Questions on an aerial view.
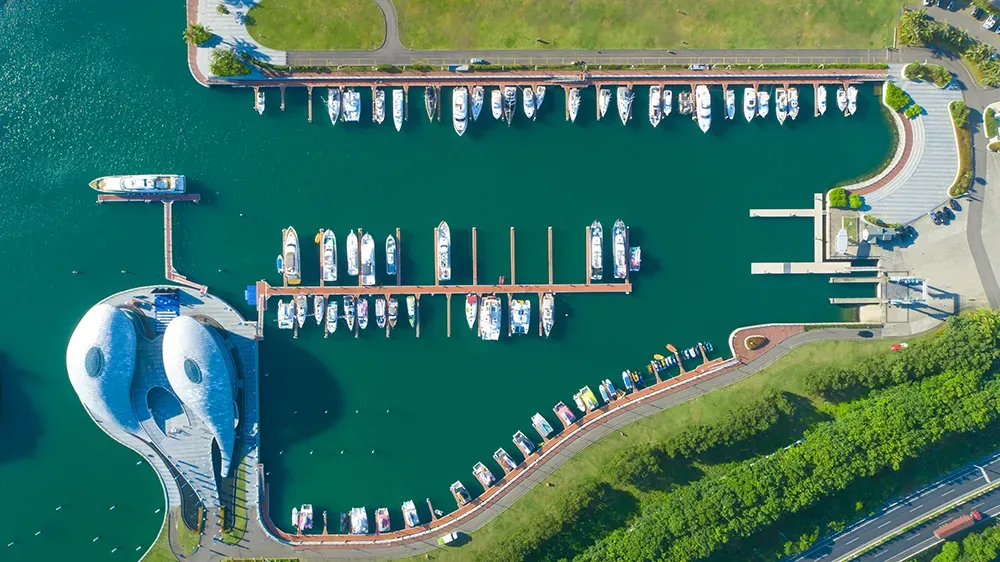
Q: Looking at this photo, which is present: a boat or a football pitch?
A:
boat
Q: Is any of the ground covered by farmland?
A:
No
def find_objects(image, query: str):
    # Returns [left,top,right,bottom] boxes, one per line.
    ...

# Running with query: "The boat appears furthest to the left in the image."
[87,175,188,194]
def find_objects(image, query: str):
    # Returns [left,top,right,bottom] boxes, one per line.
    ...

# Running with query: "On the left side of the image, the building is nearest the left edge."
[65,303,153,444]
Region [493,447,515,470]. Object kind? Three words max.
boat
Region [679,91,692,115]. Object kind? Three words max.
boat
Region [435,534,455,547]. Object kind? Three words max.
vehicle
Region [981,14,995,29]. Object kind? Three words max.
vehicle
